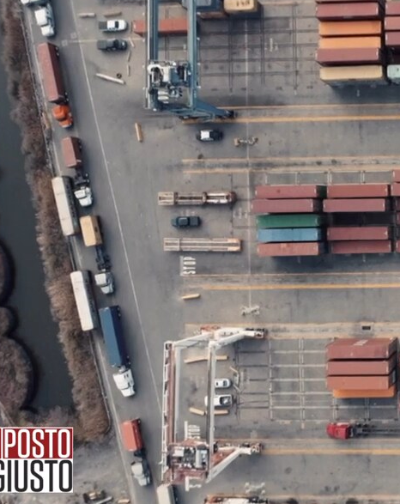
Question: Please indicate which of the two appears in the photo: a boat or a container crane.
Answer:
container crane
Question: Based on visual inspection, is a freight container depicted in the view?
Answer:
Yes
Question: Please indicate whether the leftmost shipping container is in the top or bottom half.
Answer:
top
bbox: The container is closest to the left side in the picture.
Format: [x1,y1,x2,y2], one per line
[38,42,68,104]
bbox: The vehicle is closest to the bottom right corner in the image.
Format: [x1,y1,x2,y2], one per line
[327,421,400,438]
